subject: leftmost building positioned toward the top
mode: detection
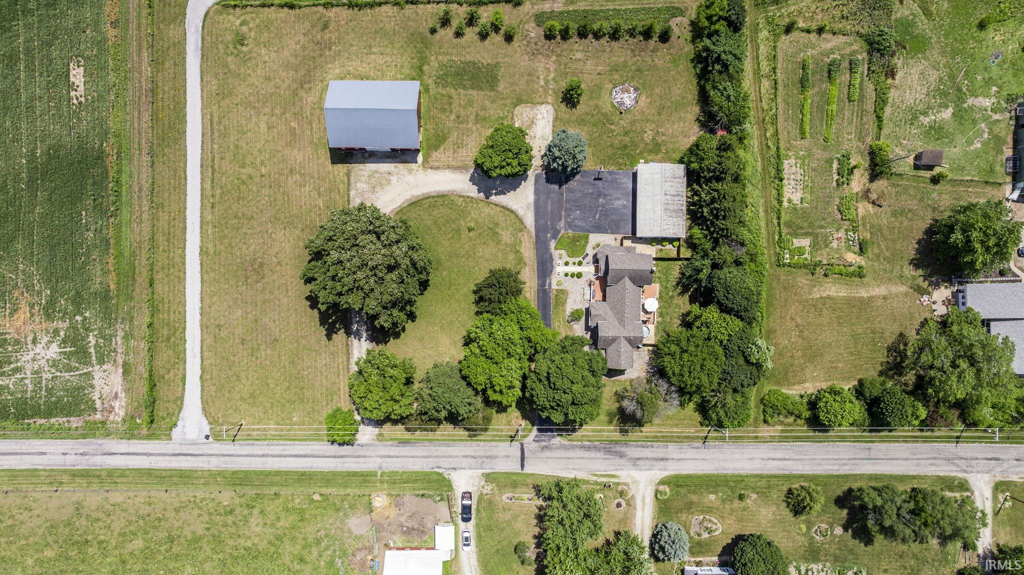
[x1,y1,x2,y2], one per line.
[324,80,423,152]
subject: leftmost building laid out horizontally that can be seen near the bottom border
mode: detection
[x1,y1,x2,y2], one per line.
[384,547,441,575]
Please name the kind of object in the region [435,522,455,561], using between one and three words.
shed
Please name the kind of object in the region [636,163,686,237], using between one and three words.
building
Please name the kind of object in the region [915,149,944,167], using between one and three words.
shed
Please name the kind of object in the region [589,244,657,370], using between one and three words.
house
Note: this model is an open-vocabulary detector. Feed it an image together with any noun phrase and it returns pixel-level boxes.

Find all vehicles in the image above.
[460,491,472,523]
[460,530,471,554]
